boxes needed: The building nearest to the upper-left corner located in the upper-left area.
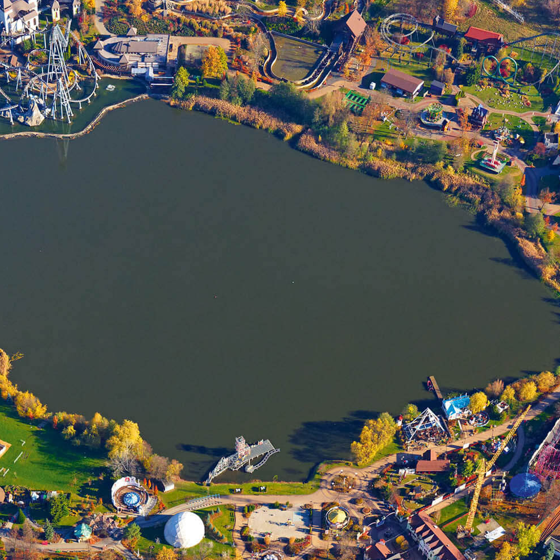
[0,0,42,34]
